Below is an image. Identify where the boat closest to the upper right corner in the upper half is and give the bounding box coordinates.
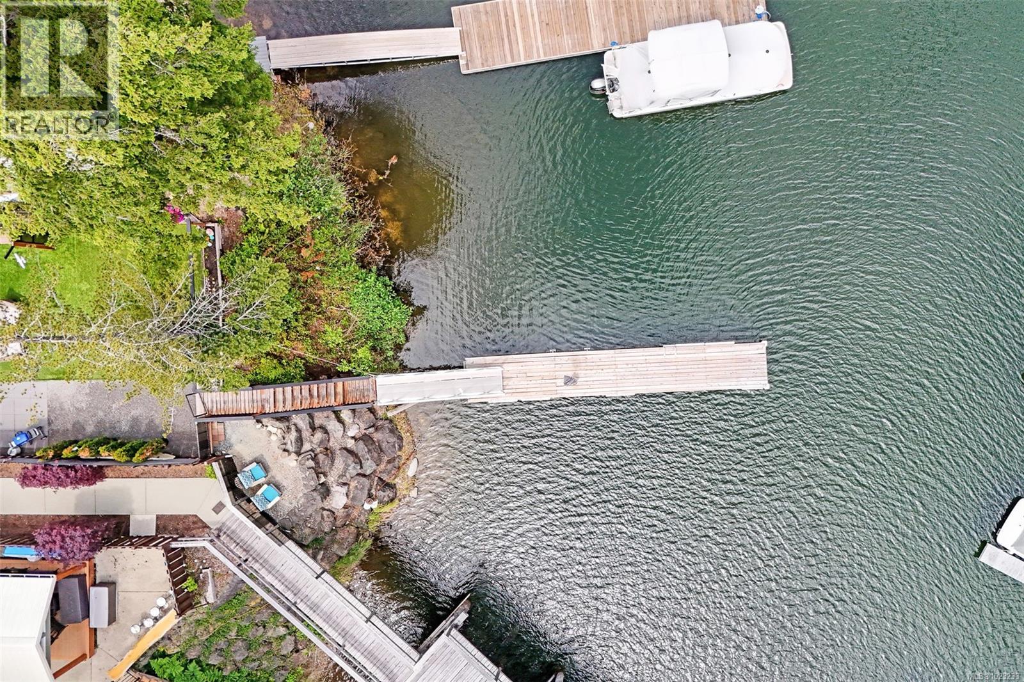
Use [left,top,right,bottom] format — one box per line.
[587,25,791,120]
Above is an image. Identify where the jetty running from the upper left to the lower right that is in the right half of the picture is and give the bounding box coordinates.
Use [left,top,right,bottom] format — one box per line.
[973,541,1024,584]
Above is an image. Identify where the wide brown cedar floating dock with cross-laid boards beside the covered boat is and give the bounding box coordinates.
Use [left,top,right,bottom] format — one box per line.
[451,0,771,77]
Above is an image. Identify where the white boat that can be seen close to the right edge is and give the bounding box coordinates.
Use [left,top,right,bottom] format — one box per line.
[986,499,1024,563]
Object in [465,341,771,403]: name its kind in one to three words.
pier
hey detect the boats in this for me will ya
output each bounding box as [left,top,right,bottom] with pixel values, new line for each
[986,499,1024,563]
[587,25,791,120]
